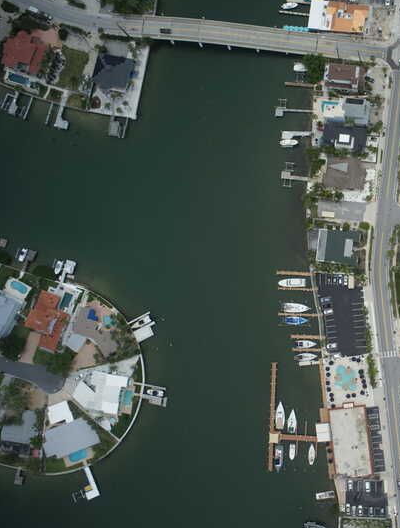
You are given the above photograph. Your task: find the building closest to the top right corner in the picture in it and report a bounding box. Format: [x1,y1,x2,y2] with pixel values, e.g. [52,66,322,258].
[308,0,371,36]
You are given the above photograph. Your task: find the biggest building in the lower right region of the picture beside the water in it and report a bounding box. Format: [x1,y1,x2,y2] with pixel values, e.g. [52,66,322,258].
[329,403,372,477]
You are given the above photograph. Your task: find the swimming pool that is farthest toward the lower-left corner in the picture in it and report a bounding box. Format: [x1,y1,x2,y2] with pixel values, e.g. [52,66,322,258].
[68,449,89,462]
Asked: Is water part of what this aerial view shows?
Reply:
Yes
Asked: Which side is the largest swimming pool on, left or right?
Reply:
right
